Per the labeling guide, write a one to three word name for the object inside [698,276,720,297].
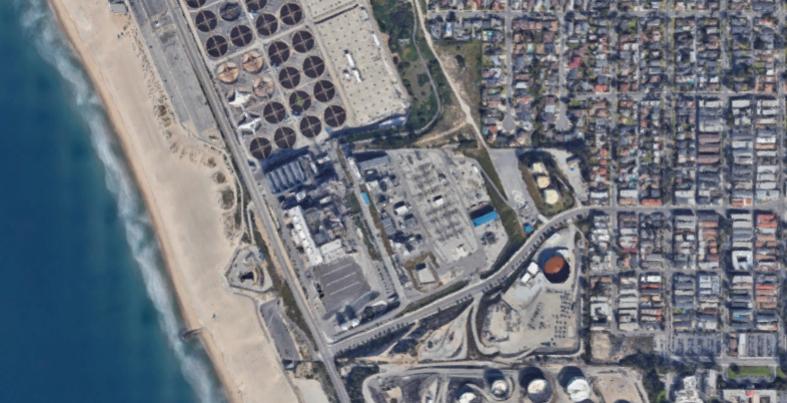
building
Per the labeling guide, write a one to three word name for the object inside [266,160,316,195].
building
